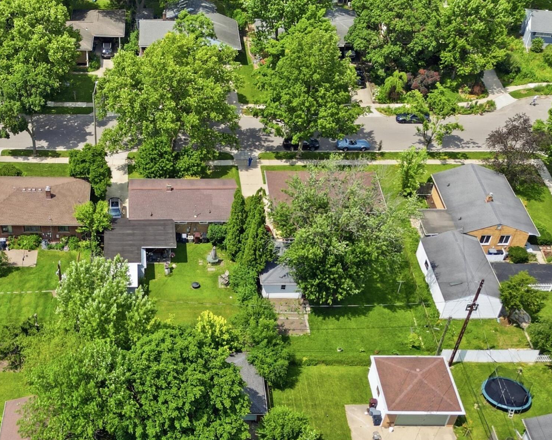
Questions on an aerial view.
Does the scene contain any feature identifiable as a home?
Yes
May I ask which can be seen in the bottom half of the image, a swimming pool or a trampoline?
trampoline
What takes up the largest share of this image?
trees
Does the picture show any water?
No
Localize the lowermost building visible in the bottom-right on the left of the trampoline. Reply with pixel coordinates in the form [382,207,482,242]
[367,353,468,430]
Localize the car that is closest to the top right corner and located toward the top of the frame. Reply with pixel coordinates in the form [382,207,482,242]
[390,110,424,126]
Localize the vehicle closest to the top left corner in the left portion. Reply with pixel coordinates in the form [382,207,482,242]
[99,38,115,60]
